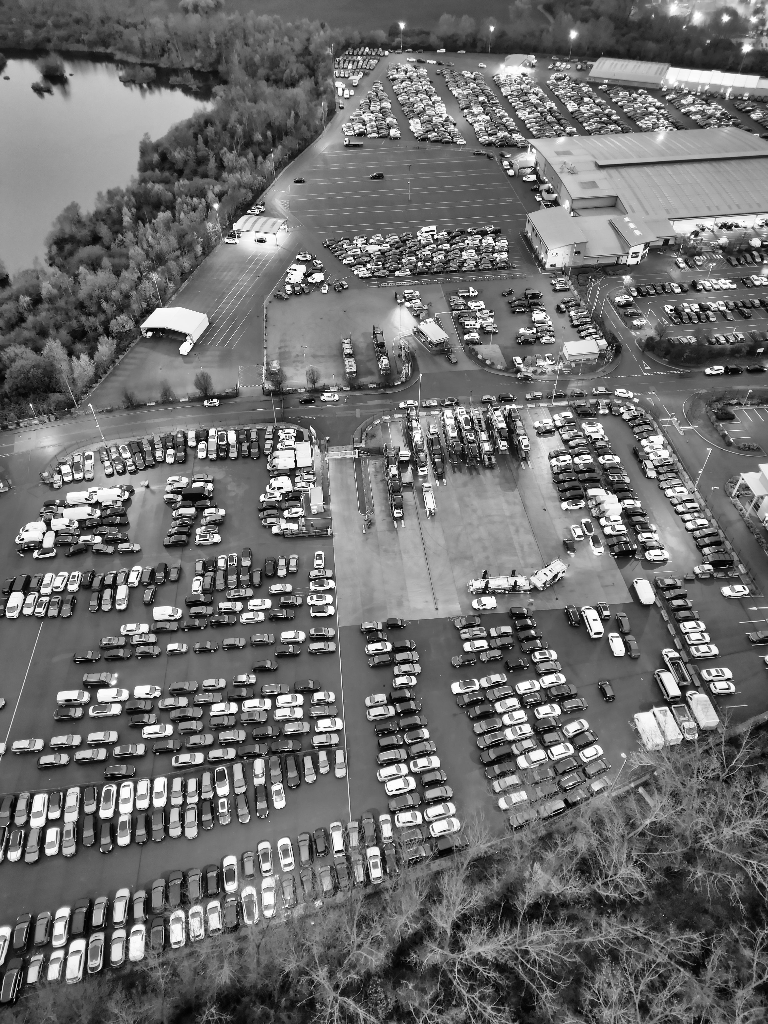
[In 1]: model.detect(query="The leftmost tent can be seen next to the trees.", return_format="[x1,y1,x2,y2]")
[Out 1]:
[141,304,209,343]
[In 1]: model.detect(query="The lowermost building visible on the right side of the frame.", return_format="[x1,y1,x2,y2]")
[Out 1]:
[732,448,768,517]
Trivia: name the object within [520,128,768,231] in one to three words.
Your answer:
building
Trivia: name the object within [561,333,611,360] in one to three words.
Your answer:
shed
